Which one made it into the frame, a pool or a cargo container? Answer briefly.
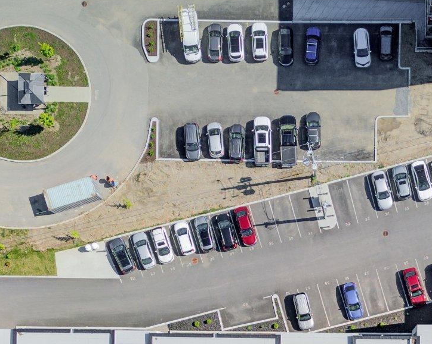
cargo container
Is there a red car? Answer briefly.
Yes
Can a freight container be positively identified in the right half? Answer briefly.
No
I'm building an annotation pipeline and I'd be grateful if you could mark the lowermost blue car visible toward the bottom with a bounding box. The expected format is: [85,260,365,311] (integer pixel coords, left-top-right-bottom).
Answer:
[340,281,361,321]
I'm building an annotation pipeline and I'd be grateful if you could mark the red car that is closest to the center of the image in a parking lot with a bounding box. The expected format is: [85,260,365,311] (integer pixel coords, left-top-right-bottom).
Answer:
[235,207,257,246]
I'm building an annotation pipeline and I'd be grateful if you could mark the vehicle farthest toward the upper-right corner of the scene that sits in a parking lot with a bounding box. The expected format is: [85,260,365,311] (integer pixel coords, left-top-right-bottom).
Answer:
[376,21,395,64]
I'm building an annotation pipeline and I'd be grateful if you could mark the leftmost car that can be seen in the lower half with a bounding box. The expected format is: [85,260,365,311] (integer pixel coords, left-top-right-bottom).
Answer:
[109,238,134,275]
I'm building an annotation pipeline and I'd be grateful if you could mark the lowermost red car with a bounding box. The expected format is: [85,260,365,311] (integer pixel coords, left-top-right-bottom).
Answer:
[403,267,425,306]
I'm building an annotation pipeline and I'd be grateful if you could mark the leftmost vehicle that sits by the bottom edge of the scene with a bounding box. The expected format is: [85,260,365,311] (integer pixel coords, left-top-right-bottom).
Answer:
[292,292,313,329]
